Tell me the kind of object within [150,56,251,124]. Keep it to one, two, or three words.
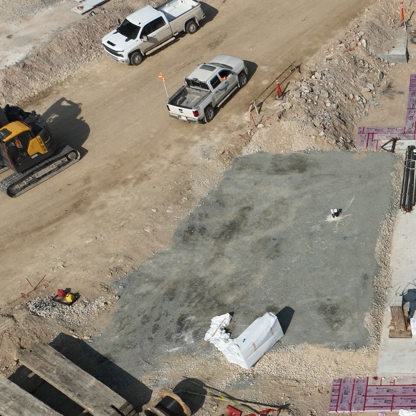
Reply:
truck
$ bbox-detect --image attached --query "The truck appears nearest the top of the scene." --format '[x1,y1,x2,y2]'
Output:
[101,0,202,67]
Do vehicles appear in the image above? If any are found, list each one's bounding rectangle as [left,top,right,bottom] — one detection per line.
[0,121,79,197]
[101,0,202,67]
[150,56,251,124]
